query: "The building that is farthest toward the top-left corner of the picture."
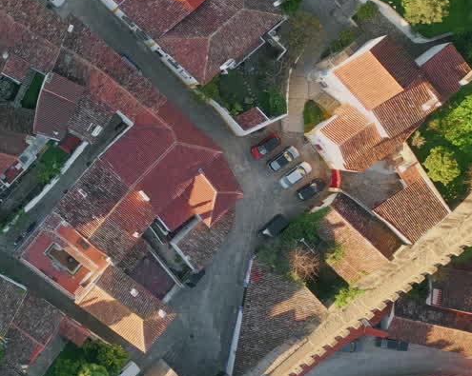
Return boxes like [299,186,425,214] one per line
[0,0,77,82]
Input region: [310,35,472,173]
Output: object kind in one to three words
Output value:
house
